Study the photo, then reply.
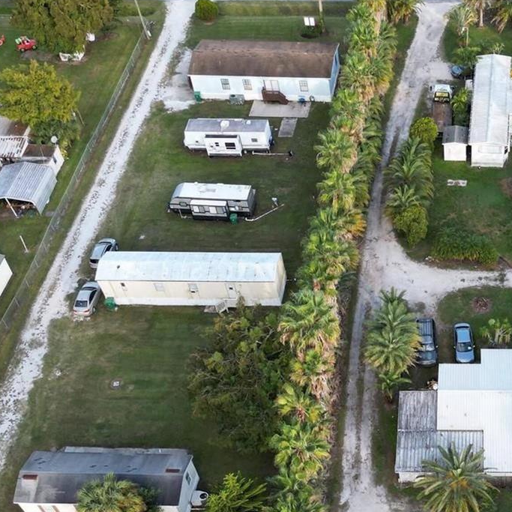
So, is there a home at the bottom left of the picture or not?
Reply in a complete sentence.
Yes, a home can be seen at the bottom left of the picture.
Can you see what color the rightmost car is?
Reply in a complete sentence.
In this view, the rightmost car is blue.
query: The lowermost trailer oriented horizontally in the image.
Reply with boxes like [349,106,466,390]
[170,183,269,220]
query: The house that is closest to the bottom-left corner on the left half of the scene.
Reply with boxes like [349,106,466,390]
[14,442,197,512]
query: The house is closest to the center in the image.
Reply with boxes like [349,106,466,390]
[95,251,285,305]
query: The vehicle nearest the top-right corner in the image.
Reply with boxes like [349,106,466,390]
[432,87,451,121]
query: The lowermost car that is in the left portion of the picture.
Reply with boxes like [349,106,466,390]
[69,280,102,316]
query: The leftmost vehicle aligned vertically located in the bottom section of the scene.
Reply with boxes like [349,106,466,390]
[416,315,438,363]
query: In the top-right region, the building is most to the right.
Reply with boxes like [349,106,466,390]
[470,50,512,164]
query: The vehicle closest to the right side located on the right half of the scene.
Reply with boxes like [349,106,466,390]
[453,322,476,363]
